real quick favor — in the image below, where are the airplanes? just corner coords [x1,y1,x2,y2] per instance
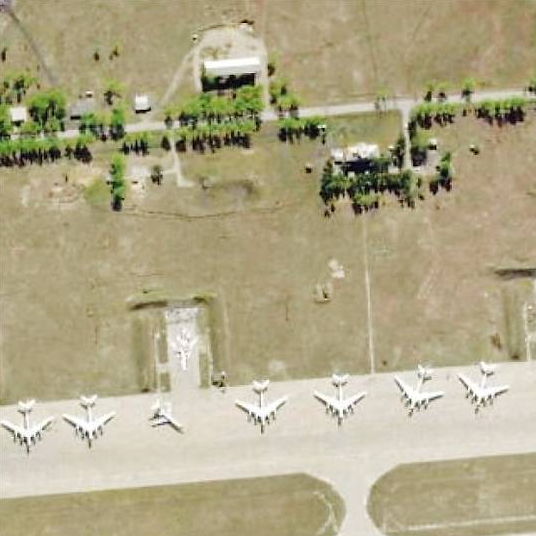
[459,361,510,411]
[62,395,115,444]
[150,397,182,428]
[314,373,366,422]
[395,365,445,413]
[235,381,287,431]
[1,400,53,450]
